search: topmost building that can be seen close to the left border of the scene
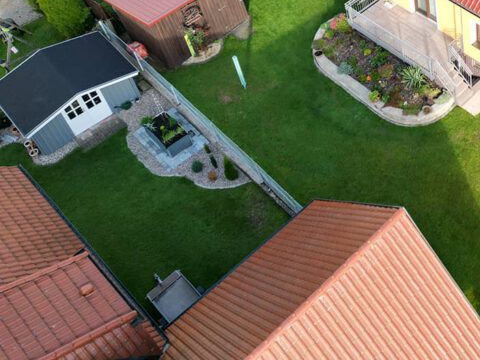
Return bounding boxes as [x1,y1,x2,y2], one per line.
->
[0,32,148,170]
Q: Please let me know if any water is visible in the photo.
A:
No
